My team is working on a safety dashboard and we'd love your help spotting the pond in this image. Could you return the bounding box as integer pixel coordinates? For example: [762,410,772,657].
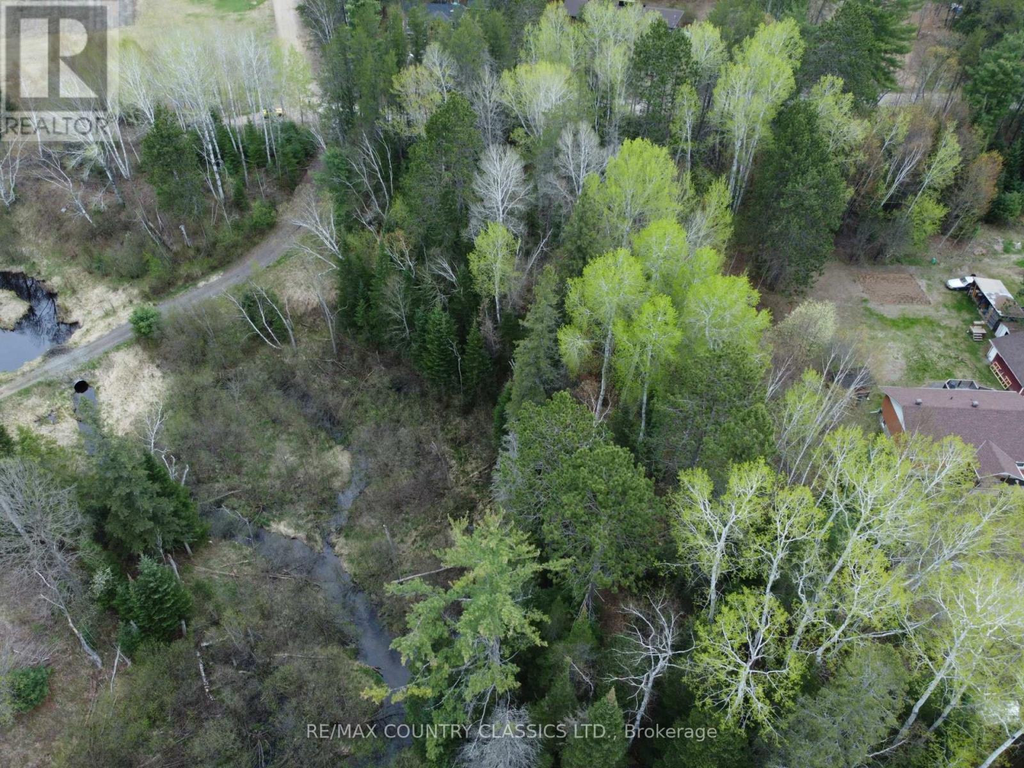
[0,270,80,369]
